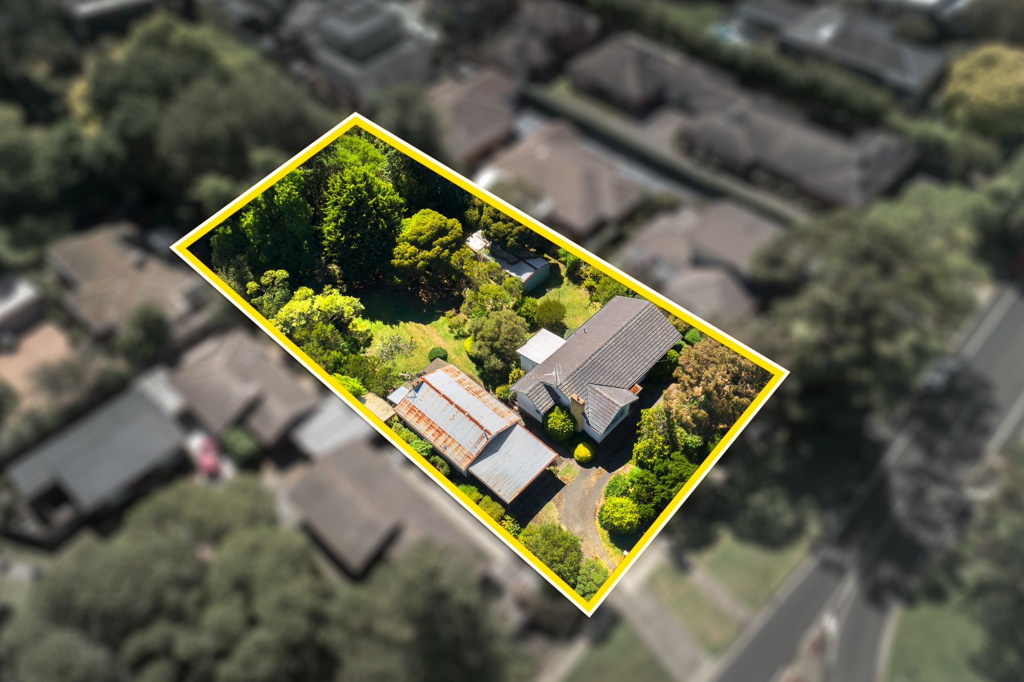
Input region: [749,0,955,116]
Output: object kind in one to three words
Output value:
house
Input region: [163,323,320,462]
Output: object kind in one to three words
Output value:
house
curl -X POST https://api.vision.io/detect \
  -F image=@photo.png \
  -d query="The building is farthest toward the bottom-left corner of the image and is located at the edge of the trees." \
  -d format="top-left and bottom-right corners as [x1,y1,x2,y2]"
[4,379,193,547]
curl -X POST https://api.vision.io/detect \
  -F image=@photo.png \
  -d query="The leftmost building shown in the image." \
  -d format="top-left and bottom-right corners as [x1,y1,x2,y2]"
[0,252,48,338]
